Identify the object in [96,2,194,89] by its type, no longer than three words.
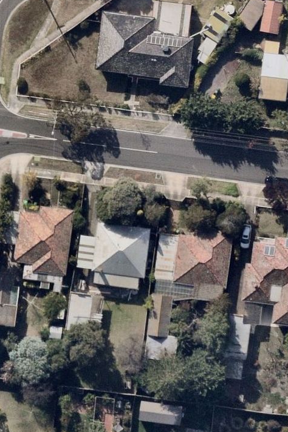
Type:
house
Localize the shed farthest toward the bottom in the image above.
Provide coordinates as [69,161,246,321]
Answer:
[139,400,183,425]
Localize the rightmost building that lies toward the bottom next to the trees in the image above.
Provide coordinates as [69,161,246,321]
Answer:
[224,236,288,380]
